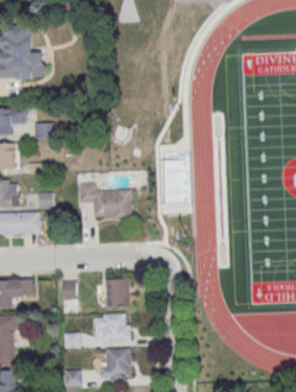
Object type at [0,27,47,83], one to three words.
house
